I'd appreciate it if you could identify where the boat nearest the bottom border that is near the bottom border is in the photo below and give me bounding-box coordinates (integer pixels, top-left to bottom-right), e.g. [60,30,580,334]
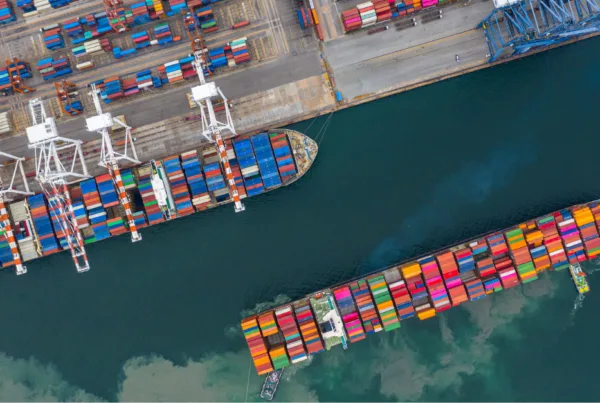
[261,367,279,401]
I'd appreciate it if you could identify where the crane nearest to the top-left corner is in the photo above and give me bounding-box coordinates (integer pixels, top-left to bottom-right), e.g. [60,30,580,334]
[2,53,40,93]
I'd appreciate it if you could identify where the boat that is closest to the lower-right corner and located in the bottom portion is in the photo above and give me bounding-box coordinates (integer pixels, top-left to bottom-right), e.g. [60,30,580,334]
[569,266,591,295]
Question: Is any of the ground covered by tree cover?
No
